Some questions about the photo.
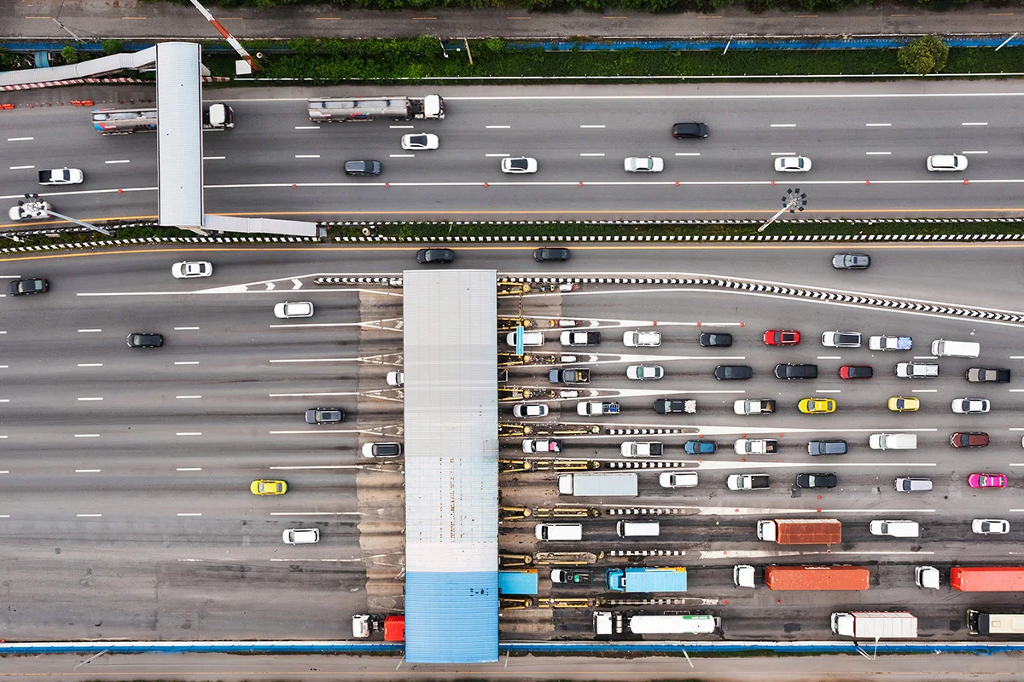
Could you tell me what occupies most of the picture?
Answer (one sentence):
The scene is dominated by paved ground.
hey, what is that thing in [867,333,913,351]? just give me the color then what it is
white vehicle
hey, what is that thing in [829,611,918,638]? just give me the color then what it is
white truck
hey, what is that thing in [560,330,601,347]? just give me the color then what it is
white vehicle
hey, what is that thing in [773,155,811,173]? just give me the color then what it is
white car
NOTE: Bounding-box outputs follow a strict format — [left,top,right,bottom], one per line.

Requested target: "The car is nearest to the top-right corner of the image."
[924,153,967,172]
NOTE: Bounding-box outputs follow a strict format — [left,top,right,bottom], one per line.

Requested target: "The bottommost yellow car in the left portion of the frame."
[250,479,289,496]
